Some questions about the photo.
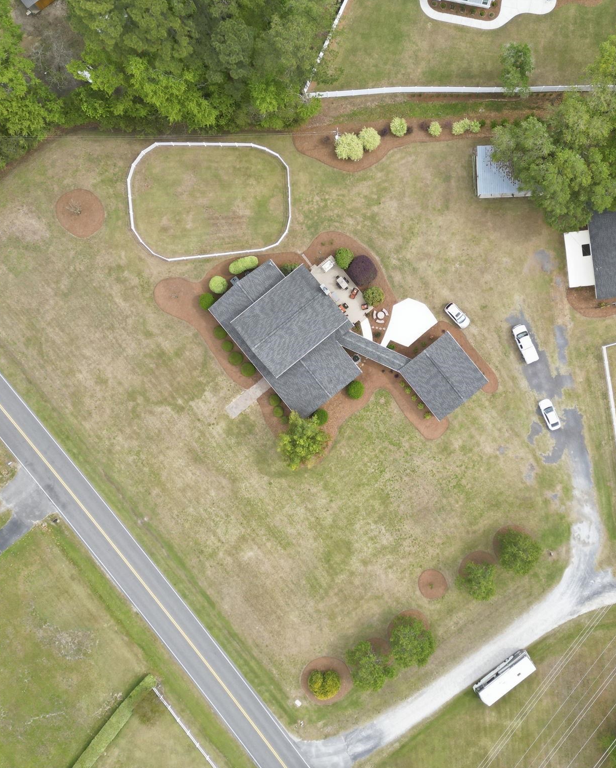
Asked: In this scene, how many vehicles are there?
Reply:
four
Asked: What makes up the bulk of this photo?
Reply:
grass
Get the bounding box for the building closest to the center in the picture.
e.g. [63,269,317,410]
[209,260,362,418]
